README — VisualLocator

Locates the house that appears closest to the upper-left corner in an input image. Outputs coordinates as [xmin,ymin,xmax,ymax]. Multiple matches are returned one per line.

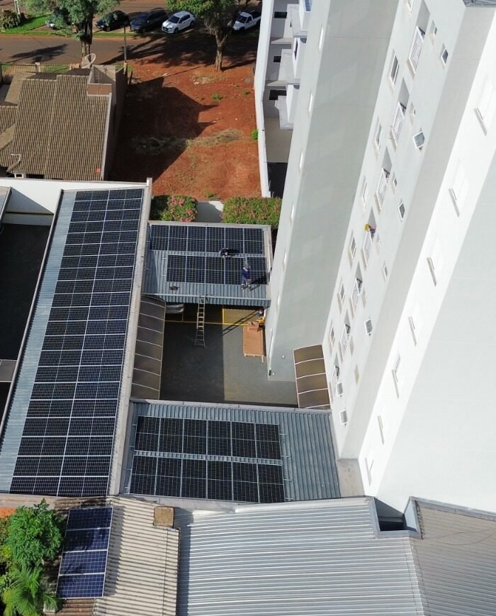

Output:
[0,45,136,182]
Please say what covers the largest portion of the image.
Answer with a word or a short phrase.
buildings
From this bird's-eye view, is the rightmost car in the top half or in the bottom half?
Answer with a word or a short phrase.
top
